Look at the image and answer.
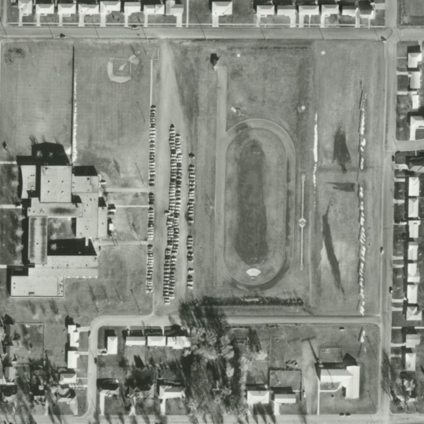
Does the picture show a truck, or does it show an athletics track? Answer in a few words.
athletics track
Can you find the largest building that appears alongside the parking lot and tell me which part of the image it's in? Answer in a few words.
left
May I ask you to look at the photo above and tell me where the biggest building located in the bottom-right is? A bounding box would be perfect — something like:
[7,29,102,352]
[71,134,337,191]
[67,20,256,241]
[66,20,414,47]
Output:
[320,366,359,399]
